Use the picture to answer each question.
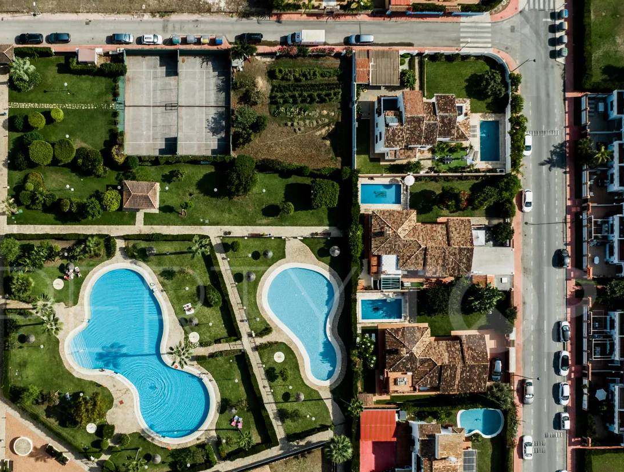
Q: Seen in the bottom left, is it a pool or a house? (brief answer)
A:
pool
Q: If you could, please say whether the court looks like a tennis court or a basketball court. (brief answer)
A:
tennis court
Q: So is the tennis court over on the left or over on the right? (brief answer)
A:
left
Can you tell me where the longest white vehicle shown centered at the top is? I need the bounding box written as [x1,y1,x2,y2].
[288,28,325,45]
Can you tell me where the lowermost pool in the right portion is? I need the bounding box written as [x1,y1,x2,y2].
[457,408,504,437]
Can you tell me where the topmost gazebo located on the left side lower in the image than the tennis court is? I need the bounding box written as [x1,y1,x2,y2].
[122,180,159,211]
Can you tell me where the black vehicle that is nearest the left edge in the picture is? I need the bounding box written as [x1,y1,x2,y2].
[18,32,42,45]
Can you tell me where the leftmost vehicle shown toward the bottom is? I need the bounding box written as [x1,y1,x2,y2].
[490,359,503,379]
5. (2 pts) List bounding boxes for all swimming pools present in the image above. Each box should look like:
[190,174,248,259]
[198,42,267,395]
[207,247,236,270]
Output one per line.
[360,297,405,322]
[66,264,215,443]
[478,119,502,162]
[457,408,504,437]
[360,183,403,205]
[262,262,342,386]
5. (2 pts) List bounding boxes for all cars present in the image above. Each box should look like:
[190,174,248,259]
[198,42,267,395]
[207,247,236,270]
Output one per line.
[49,32,71,44]
[349,32,374,45]
[523,379,535,404]
[559,412,570,430]
[558,248,569,268]
[521,189,534,212]
[558,382,572,405]
[490,359,503,379]
[239,32,263,44]
[18,32,42,45]
[111,32,134,44]
[559,321,570,341]
[557,351,571,376]
[521,435,534,459]
[141,33,163,44]
[524,134,534,157]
